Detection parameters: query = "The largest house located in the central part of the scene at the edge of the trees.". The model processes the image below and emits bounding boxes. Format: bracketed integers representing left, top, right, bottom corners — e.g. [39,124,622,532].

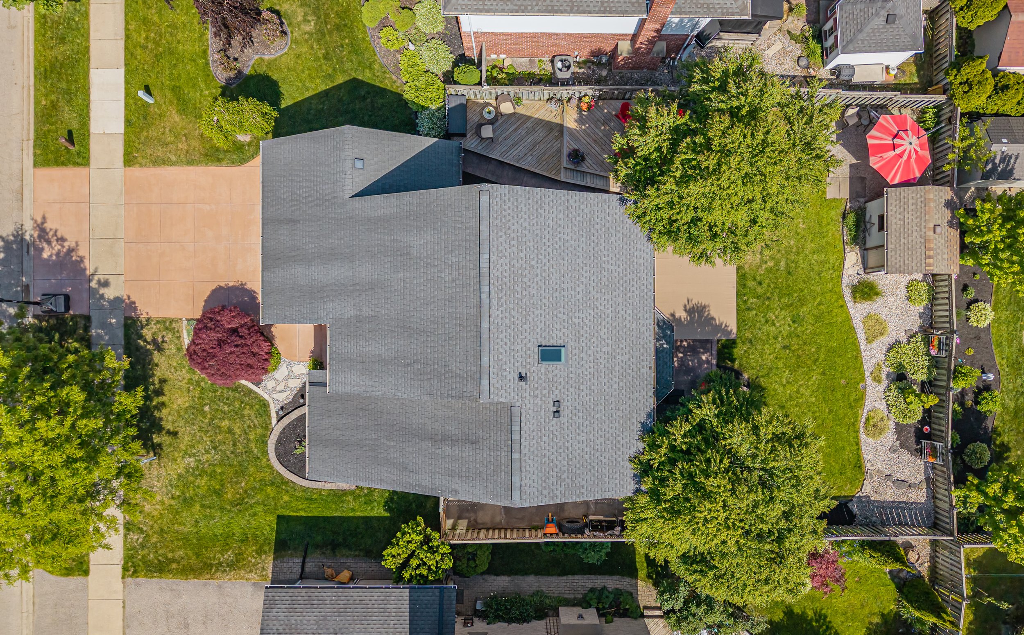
[258,127,675,508]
